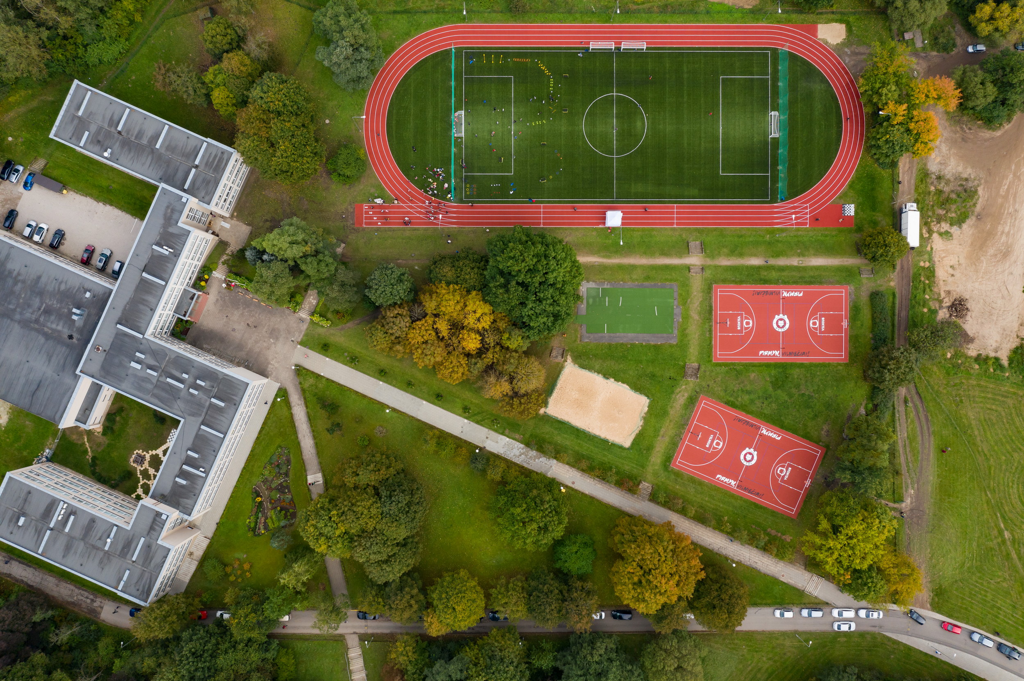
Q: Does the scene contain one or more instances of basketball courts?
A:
Yes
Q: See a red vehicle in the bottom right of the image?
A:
Yes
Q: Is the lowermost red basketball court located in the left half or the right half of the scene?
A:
right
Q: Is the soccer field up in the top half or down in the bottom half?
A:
top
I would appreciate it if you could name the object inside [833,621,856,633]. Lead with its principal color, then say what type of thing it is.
white vehicle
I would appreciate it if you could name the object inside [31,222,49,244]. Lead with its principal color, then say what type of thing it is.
white car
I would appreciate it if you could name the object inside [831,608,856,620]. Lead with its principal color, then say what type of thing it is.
white vehicle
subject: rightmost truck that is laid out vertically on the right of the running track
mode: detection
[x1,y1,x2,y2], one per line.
[904,203,925,250]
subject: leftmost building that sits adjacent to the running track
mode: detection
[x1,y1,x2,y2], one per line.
[0,79,271,607]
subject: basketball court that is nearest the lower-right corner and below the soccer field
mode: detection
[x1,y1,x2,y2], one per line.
[670,394,826,520]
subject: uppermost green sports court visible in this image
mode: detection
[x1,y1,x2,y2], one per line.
[575,281,682,343]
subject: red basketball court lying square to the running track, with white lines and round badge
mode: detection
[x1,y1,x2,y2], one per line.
[713,284,849,363]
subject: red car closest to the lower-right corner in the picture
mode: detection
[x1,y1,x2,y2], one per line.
[940,620,965,637]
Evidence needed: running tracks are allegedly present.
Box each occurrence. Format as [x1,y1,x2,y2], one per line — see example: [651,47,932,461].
[355,23,865,227]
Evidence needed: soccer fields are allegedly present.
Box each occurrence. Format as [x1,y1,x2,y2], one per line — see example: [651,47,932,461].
[386,46,842,204]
